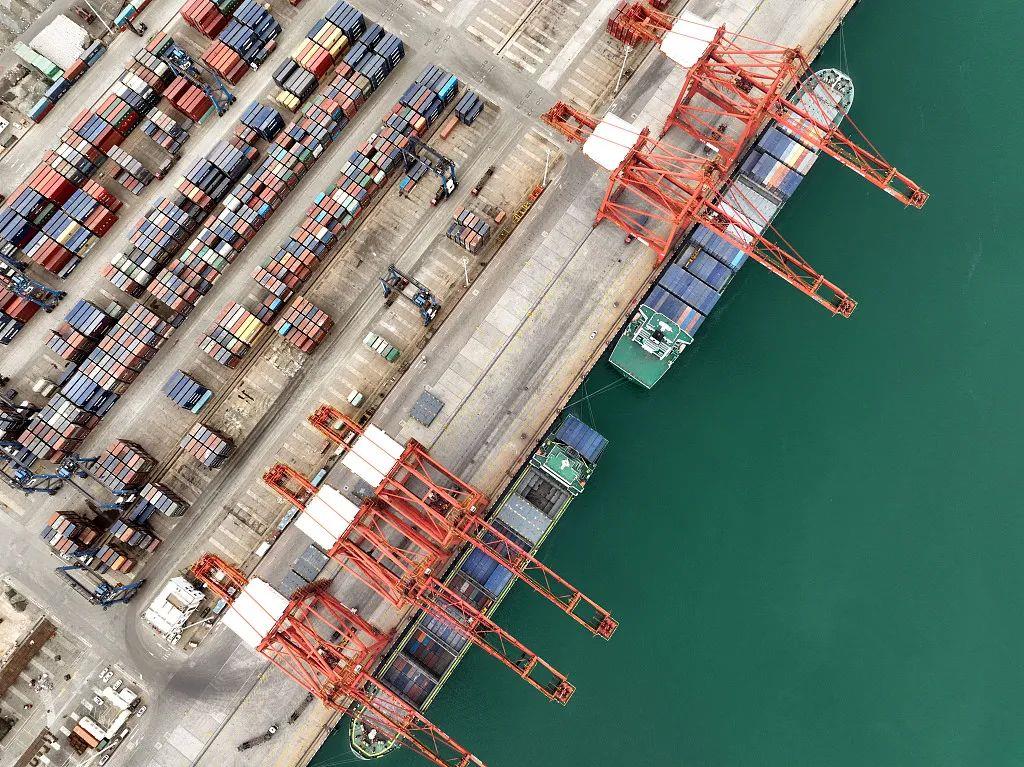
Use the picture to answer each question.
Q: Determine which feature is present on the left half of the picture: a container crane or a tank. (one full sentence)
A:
You can see a container crane on the left half of the picture.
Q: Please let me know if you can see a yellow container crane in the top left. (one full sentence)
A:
No, looking in the top left, there is no yellow container crane.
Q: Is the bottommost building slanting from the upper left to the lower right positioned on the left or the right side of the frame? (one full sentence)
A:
It is on the left.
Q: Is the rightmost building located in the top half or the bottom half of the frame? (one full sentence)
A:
Seen from above, the rightmost building lies in the bottom half of the view.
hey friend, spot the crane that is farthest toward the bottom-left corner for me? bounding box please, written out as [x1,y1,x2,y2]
[57,550,141,610]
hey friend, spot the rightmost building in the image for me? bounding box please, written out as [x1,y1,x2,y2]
[138,578,211,641]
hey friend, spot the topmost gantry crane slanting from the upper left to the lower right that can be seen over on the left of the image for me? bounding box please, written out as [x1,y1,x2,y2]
[163,47,234,115]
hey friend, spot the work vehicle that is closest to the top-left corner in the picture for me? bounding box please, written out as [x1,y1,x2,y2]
[67,1,94,22]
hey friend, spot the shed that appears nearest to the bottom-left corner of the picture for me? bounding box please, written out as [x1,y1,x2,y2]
[14,729,56,767]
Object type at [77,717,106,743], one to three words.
building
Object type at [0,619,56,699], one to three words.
shed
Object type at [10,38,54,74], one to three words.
shed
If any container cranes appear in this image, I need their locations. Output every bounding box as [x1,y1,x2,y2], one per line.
[378,266,441,327]
[0,252,66,313]
[619,0,936,207]
[262,459,577,709]
[56,456,138,510]
[0,442,58,496]
[57,550,141,610]
[399,136,459,200]
[190,552,484,767]
[163,47,234,115]
[541,93,862,317]
[306,401,621,643]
